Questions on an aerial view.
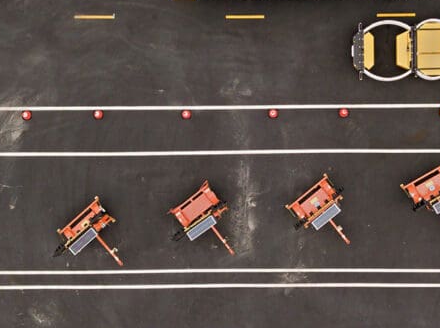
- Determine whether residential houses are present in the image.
No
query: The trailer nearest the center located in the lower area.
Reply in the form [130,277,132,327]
[167,178,235,253]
